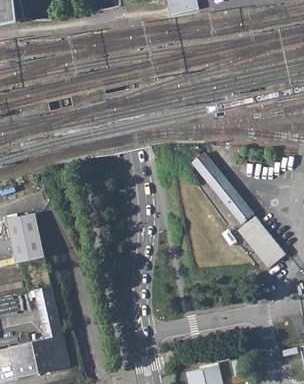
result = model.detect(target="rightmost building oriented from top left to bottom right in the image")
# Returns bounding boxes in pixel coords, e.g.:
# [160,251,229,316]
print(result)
[238,216,288,268]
